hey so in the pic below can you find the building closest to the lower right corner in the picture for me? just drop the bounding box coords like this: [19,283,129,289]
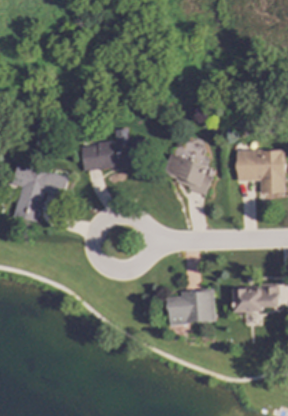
[237,286,280,316]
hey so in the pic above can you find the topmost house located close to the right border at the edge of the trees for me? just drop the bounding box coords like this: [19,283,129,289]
[238,149,288,196]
